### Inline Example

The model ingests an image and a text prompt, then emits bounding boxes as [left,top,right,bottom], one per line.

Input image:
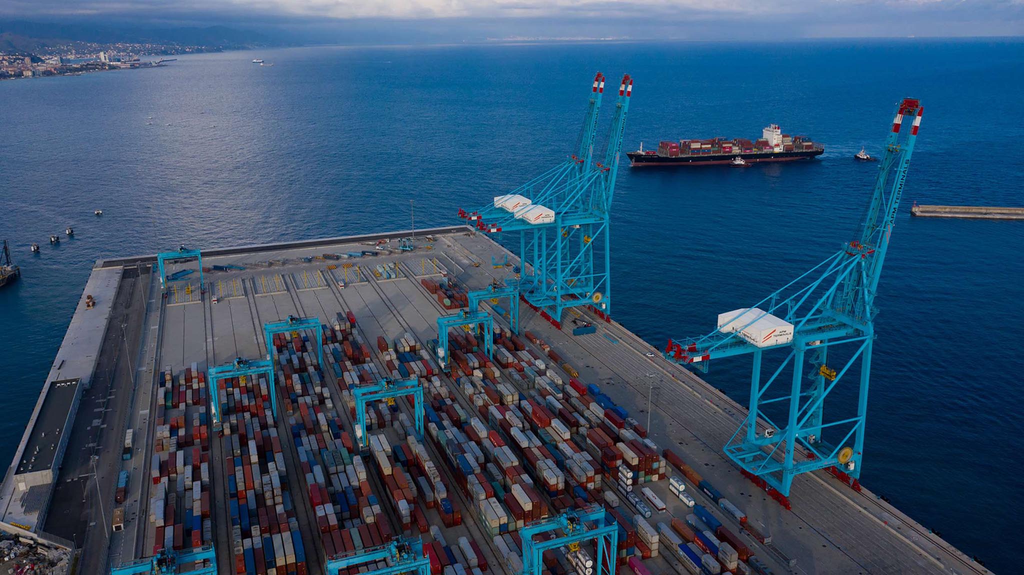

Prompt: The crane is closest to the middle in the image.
[468,282,523,350]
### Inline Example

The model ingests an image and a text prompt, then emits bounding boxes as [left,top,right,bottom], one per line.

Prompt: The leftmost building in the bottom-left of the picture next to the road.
[13,376,83,490]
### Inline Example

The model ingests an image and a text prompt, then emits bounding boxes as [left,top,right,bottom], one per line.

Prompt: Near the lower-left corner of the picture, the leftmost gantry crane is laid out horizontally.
[109,543,215,575]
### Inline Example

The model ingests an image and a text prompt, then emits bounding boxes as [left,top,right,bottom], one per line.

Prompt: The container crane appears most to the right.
[657,97,925,509]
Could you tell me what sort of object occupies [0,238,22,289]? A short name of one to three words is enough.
ship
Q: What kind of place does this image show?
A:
port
